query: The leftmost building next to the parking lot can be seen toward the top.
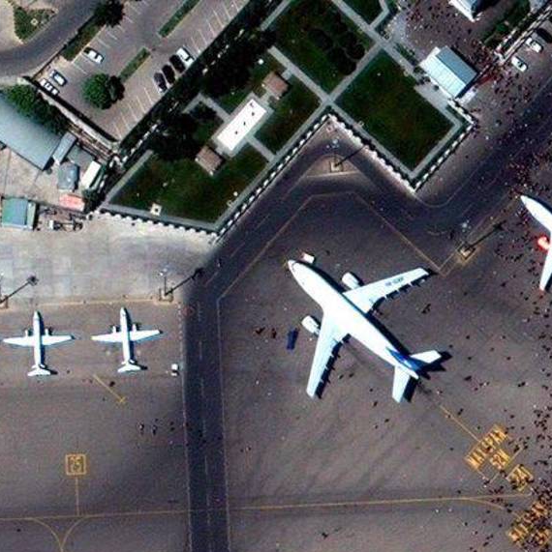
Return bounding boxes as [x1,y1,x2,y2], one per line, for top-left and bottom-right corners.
[0,93,61,175]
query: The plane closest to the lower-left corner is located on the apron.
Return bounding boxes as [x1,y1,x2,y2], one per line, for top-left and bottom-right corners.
[3,312,74,375]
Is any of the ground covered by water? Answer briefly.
No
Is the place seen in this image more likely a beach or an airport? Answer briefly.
airport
